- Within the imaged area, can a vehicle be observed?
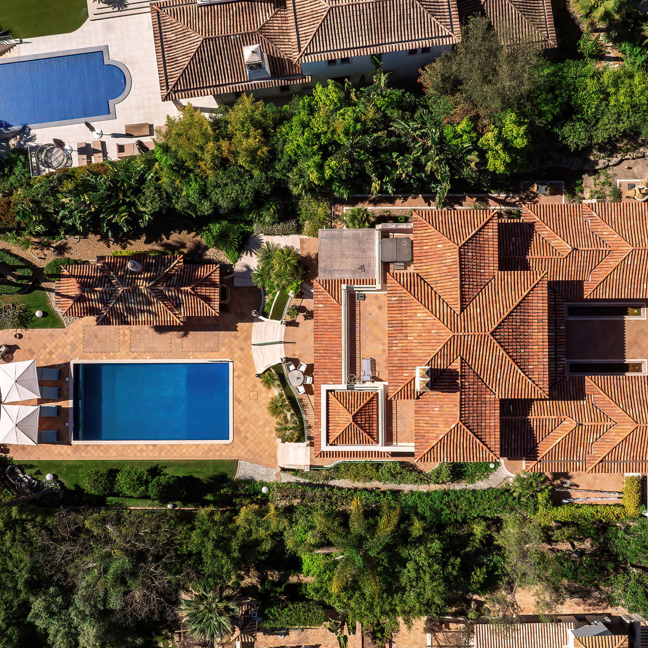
No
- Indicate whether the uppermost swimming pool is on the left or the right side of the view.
left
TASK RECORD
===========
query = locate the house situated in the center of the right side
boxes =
[313,200,648,519]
